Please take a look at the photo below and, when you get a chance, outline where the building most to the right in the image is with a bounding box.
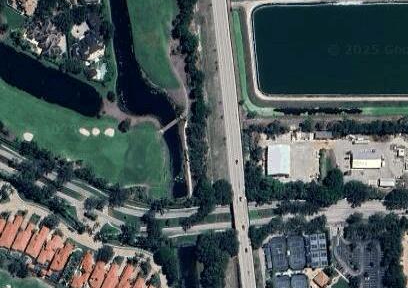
[352,148,381,168]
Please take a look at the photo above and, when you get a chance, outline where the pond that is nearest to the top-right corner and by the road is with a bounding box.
[253,3,408,95]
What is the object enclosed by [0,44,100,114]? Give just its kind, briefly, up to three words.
pond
